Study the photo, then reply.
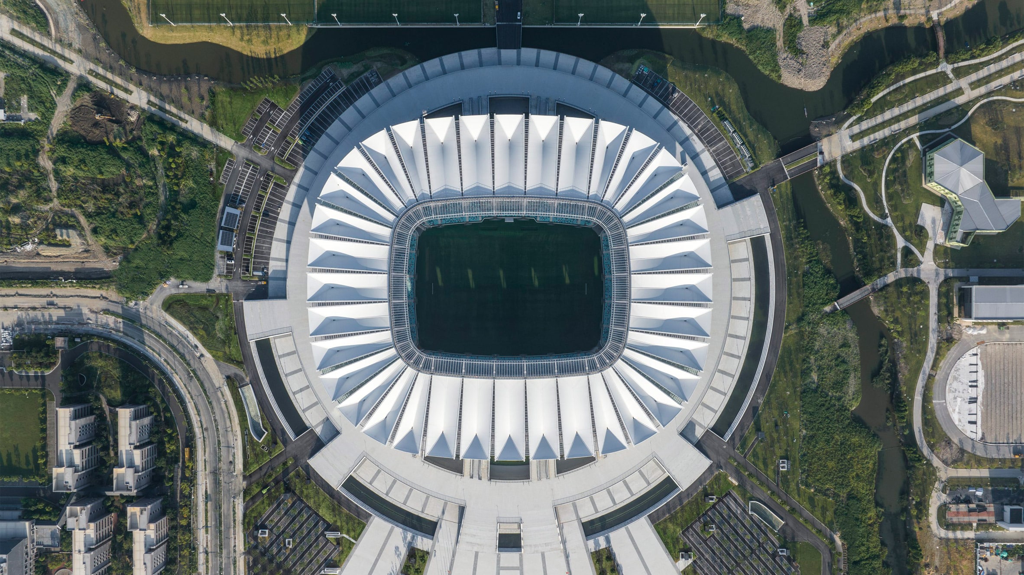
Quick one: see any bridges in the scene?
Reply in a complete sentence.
Yes, there is a bridge in the image.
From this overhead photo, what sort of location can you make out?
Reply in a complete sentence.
It's a sports ground.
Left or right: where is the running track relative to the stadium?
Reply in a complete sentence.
Relative to the stadium, the running track lies to the right.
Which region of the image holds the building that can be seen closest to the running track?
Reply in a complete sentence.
You can find the building that can be seen closest to the running track in the right area of the picture.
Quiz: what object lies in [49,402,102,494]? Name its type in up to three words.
building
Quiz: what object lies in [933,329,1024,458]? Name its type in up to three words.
running track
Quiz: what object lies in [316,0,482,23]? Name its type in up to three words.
sports field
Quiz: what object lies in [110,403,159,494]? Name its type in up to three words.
building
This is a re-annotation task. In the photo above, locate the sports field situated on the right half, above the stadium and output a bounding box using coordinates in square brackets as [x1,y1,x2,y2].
[554,0,720,23]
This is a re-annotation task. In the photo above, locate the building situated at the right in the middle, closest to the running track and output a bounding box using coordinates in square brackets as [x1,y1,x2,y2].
[956,286,1024,322]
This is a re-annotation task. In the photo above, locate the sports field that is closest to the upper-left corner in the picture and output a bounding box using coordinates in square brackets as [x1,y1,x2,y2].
[146,0,315,23]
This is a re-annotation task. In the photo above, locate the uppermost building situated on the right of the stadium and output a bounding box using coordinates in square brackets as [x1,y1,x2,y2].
[922,138,1021,247]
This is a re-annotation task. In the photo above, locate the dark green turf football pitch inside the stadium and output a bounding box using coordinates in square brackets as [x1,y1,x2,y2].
[415,217,605,358]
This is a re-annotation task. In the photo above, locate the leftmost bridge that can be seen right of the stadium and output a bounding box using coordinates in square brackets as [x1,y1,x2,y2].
[768,142,818,189]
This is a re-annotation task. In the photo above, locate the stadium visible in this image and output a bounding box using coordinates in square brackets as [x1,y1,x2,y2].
[306,112,714,463]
